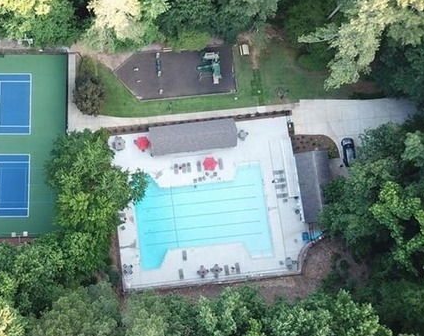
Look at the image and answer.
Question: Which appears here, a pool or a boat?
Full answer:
It is a pool that can be seen here.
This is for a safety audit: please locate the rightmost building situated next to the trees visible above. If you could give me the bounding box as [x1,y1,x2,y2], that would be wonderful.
[294,150,337,223]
